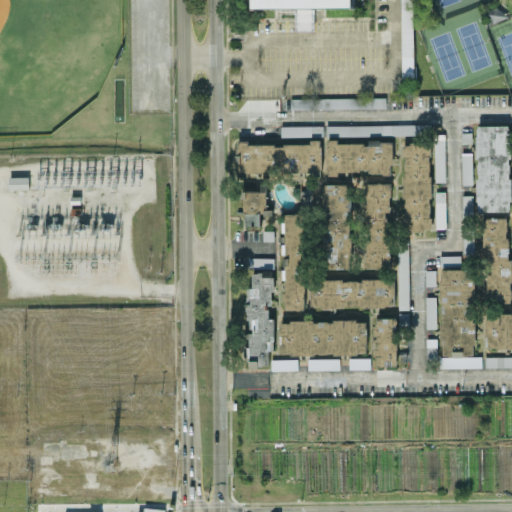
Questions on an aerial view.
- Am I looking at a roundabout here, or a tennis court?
tennis court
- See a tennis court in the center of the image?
No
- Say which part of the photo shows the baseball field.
top left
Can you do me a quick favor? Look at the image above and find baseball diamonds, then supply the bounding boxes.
[0,0,123,136]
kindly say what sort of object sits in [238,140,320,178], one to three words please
building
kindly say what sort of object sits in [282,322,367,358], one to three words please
building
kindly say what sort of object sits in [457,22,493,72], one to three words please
tennis court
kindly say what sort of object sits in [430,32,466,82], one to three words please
tennis court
